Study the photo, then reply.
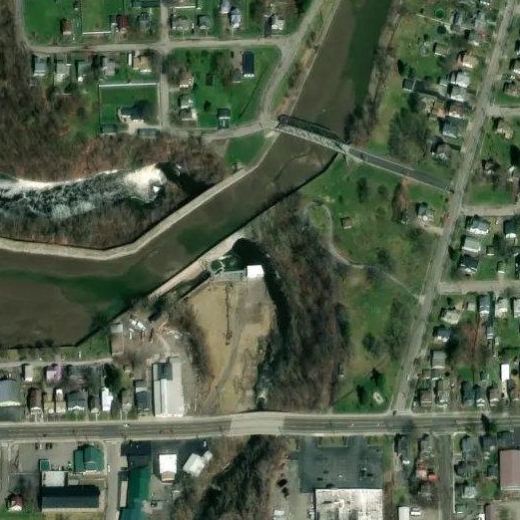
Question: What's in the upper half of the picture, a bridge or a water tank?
bridge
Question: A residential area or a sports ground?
residential area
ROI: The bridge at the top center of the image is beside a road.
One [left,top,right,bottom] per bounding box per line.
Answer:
[275,119,346,154]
